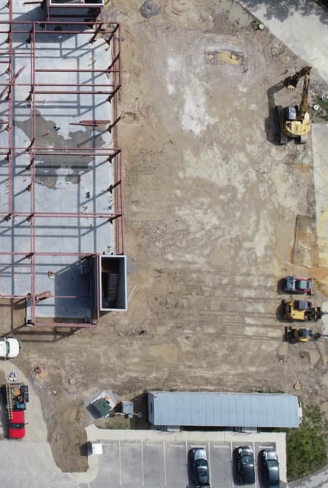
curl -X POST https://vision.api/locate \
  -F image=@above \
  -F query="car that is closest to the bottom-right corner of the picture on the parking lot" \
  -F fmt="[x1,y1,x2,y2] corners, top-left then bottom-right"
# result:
[259,451,279,488]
